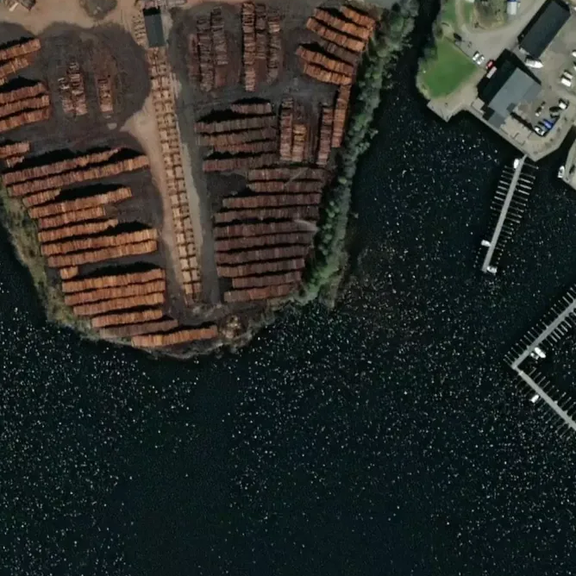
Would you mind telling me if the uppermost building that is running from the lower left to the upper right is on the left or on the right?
right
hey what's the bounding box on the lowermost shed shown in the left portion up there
[143,13,164,47]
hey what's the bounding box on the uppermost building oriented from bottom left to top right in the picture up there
[520,2,571,58]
